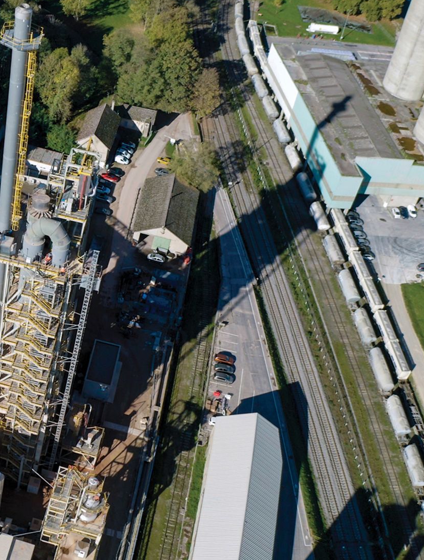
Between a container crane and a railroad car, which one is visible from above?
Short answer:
railroad car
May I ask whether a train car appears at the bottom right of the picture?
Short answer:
Yes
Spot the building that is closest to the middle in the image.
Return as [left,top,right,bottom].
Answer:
[131,169,201,253]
